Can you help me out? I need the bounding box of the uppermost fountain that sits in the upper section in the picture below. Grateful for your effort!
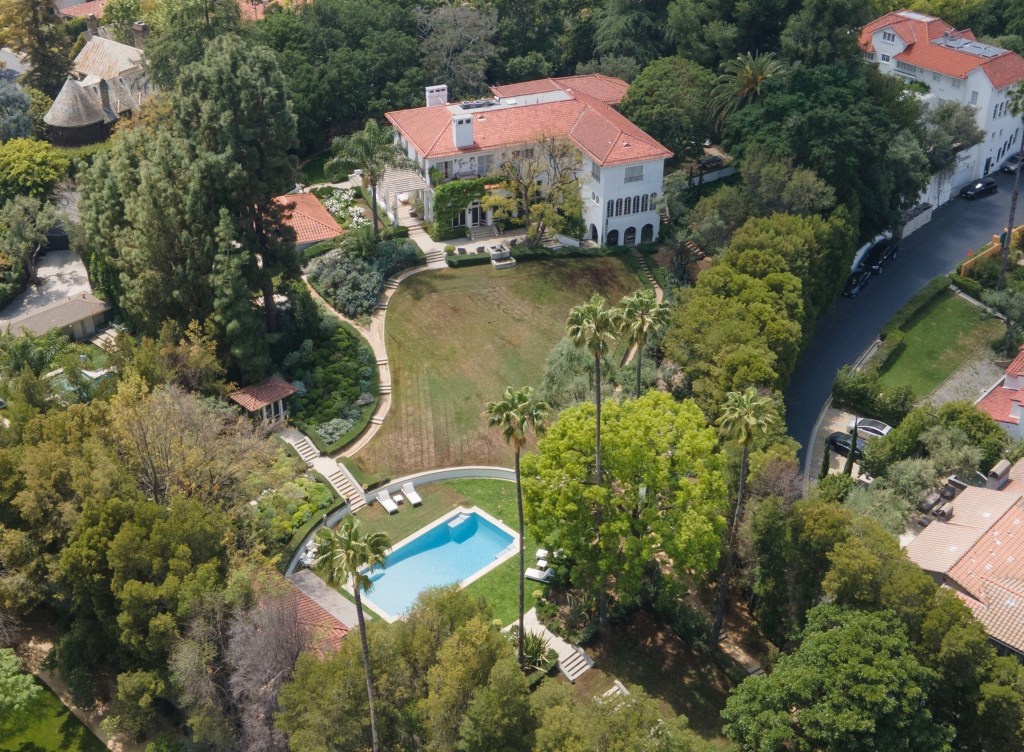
[486,248,515,273]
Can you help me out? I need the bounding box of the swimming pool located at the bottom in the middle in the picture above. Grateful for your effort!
[338,504,520,621]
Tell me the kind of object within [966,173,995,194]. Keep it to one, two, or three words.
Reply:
car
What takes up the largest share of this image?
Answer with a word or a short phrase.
trees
